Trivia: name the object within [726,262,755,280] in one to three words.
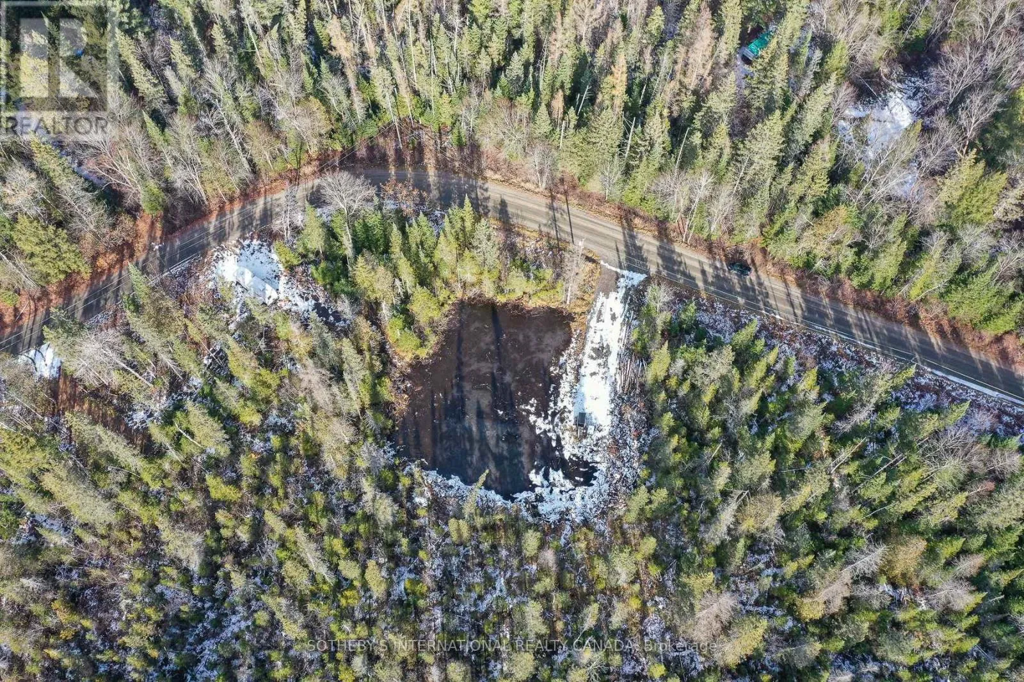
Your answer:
car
